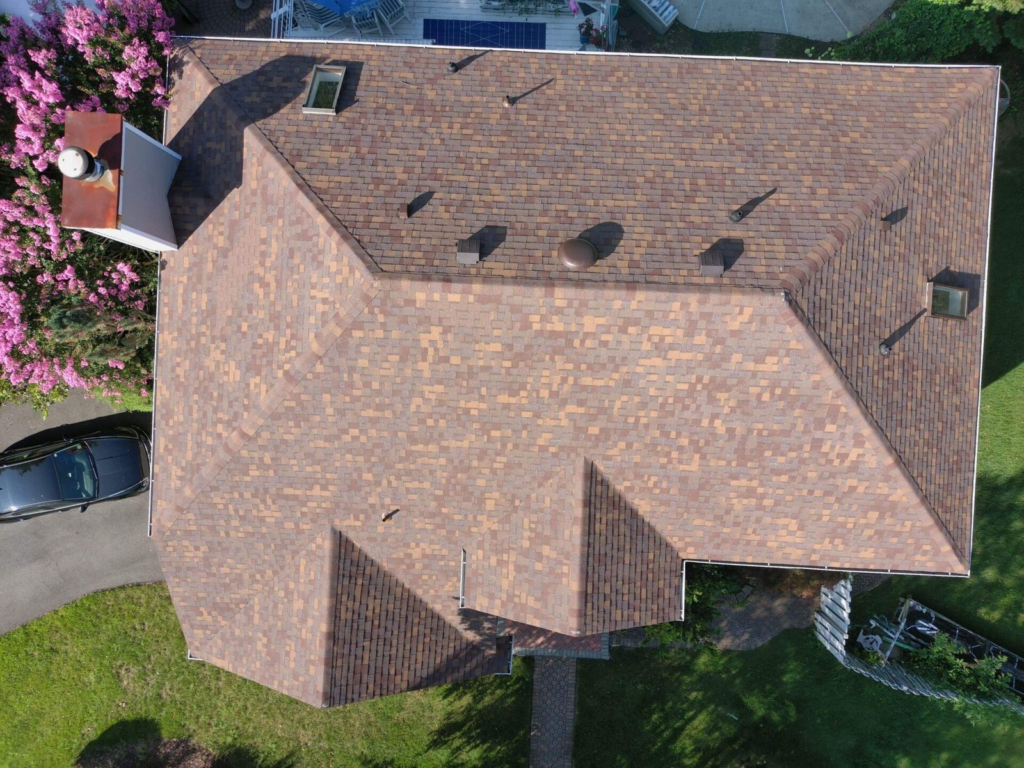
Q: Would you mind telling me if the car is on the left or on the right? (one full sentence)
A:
You can find the car on the left side of the picture.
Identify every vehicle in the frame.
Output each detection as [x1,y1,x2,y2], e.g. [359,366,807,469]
[0,419,151,519]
